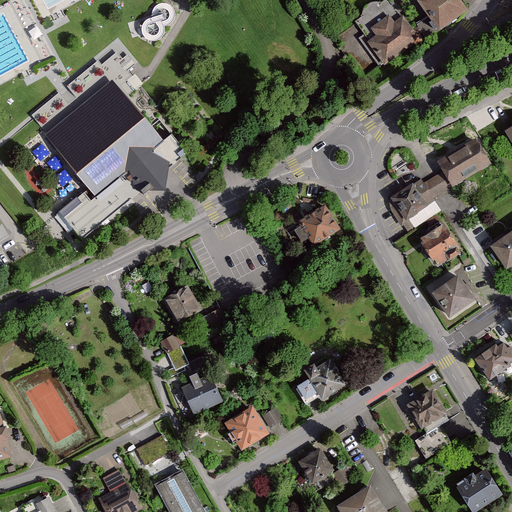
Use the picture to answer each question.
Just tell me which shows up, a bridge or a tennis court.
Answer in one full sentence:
The image shows a tennis court.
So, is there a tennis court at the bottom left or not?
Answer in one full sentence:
Yes, looking at the bottom left, one can make out a tennis court.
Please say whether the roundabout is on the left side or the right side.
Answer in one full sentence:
The roundabout appears in the right half of the scene.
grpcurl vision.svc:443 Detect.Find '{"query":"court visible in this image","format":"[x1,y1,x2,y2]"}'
[13,368,98,458]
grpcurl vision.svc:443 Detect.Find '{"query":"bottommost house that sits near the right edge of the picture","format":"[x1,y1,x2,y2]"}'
[456,468,503,512]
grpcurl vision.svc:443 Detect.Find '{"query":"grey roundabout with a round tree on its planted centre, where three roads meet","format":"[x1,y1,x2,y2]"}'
[312,128,372,187]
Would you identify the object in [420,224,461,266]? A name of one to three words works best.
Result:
house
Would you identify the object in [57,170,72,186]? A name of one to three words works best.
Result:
umbrella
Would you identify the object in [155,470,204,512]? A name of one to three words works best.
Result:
building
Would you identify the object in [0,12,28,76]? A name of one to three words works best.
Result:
swimming pool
